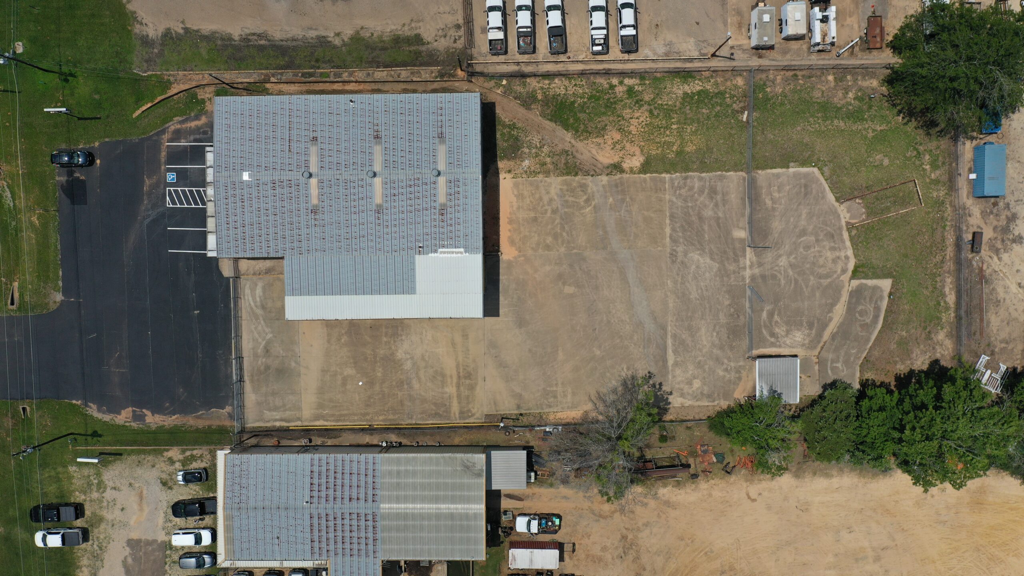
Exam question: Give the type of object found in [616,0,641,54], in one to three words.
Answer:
truck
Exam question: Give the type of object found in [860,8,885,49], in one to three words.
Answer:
trailer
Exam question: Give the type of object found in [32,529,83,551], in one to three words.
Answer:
truck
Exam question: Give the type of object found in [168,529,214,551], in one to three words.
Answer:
car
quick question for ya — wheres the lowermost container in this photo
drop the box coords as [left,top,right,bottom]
[509,541,559,569]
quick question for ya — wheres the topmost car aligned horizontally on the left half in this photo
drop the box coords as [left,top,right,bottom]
[47,148,89,168]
